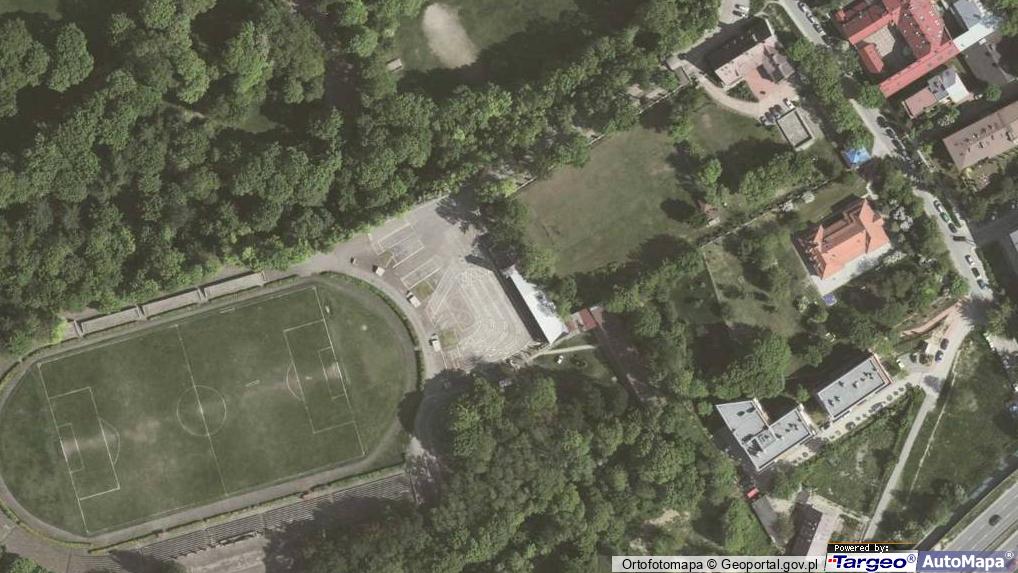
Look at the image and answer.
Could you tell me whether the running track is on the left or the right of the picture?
left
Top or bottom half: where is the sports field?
bottom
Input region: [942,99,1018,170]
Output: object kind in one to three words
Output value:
building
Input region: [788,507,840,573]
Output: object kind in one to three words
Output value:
house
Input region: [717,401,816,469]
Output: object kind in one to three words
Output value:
building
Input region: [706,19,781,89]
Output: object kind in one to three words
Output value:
house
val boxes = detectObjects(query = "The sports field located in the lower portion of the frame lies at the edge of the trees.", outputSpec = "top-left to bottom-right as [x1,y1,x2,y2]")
[40,287,364,533]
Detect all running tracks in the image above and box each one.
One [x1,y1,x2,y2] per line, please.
[0,280,409,540]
